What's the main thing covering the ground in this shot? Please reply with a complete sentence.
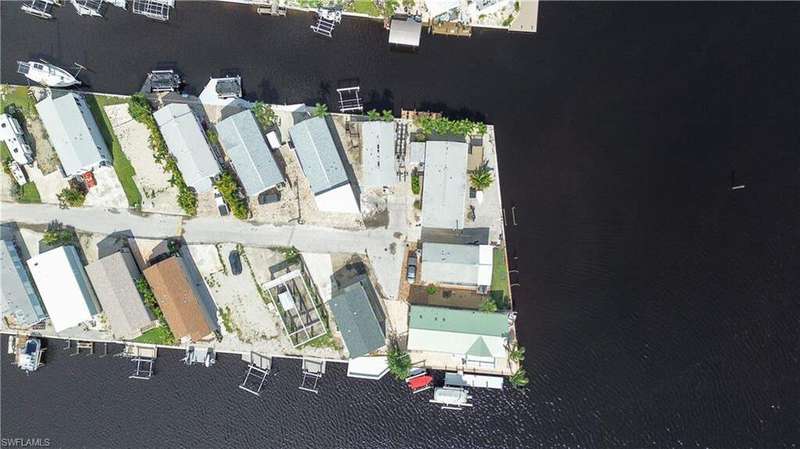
For the most part, this view shows water.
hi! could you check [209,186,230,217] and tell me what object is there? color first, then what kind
white vehicle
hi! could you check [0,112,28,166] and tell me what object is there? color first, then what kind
white vehicle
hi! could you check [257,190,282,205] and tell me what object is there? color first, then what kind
gray car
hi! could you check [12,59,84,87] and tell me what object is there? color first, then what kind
white boat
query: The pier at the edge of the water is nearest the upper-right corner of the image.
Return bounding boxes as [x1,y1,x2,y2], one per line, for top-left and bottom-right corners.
[433,20,472,39]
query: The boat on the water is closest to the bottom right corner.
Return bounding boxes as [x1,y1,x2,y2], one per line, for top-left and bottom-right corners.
[434,387,471,407]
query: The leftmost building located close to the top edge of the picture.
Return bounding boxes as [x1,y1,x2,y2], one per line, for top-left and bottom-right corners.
[388,19,421,52]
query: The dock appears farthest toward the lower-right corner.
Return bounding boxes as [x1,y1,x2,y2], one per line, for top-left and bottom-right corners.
[463,374,503,389]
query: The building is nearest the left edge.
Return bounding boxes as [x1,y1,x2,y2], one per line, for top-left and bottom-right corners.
[0,240,46,333]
